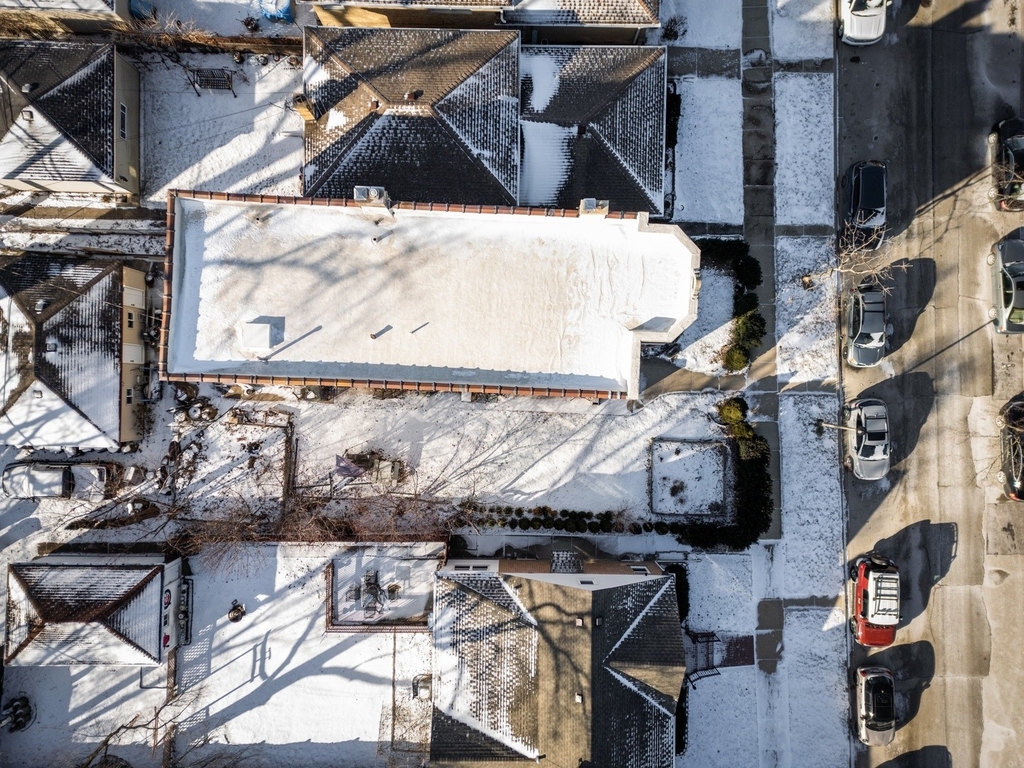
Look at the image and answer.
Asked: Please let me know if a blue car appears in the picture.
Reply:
No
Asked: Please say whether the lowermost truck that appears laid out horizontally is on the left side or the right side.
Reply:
left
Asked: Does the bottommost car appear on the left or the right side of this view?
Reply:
right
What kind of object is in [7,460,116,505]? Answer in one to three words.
truck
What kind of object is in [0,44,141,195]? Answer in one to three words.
building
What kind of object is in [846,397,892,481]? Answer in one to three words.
car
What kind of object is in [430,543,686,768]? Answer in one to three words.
house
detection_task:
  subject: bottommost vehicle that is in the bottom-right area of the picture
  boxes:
[854,664,901,746]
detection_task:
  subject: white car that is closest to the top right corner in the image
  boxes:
[840,0,890,50]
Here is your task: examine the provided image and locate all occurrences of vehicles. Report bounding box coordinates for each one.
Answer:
[849,557,900,646]
[840,0,890,50]
[846,397,892,481]
[992,122,1024,209]
[993,235,1024,330]
[854,664,901,746]
[845,162,892,251]
[7,460,116,505]
[846,284,892,367]
[999,405,1024,498]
